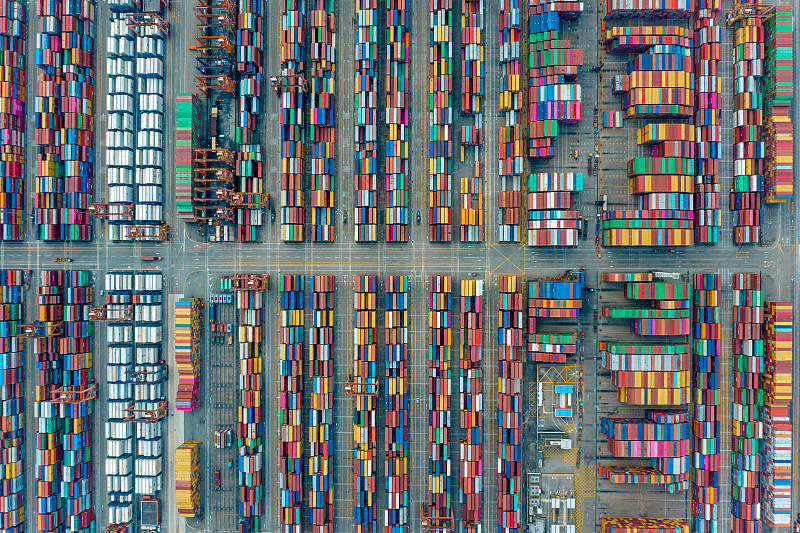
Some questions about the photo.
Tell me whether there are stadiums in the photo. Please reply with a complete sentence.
No, I can't see a single stadium in this photo.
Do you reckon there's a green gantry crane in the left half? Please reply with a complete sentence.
No, no green gantry crane appears in the left half.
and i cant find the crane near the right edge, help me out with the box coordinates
[727,4,777,30]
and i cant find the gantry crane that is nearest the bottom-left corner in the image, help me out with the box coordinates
[48,383,98,404]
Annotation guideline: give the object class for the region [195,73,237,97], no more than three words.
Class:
container crane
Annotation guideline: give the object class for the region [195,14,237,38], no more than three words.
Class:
container crane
